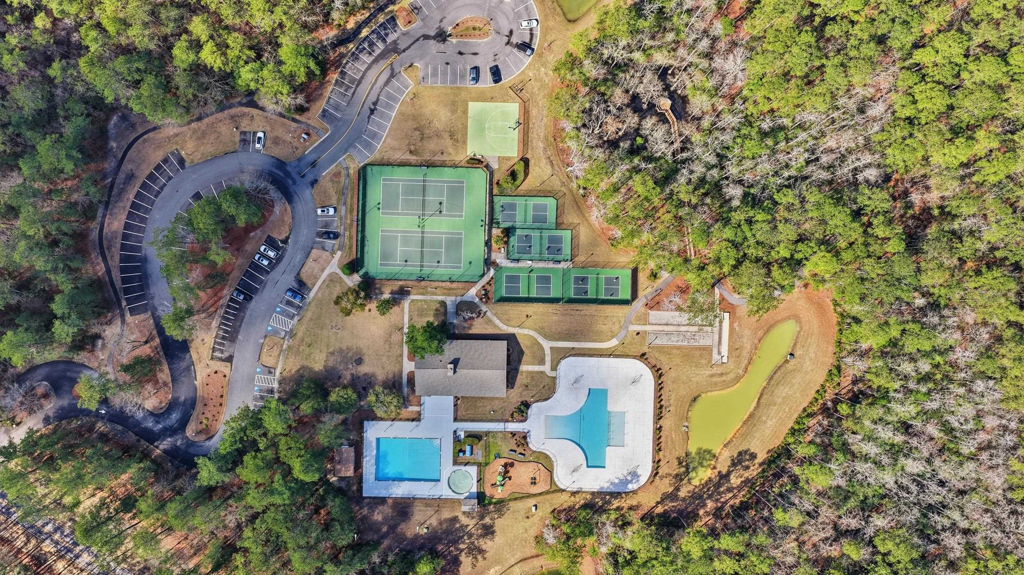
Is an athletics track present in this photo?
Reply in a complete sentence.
No, no athletics track can be seen from above.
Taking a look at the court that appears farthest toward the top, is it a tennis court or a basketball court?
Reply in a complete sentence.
I'd identify the court that appears farthest toward the top as a basketball court.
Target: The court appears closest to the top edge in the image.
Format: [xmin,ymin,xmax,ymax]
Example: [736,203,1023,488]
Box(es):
[467,102,519,156]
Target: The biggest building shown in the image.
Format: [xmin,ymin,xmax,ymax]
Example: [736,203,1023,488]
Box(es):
[415,339,507,397]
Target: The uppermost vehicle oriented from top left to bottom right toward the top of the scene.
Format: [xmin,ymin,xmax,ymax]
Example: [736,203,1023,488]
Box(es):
[516,41,535,56]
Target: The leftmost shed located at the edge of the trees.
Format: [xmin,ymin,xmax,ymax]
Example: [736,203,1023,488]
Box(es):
[334,446,355,477]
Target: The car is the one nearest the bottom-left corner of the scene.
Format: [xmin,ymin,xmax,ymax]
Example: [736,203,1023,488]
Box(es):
[233,290,248,302]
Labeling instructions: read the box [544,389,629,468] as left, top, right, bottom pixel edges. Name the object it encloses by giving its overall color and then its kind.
blue swimming pool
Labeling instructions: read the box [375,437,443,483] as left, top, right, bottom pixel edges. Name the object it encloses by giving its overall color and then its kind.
blue swimming pool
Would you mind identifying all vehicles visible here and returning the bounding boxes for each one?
[254,254,270,266]
[520,18,538,28]
[233,290,248,302]
[317,207,335,215]
[470,66,478,84]
[256,131,265,149]
[286,289,302,301]
[260,245,277,258]
[516,41,535,56]
[490,65,501,83]
[321,232,339,240]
